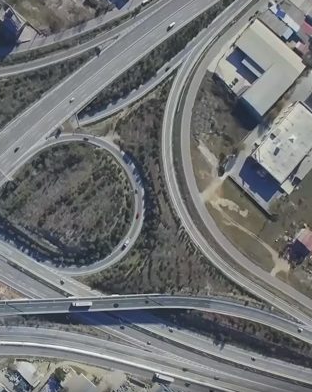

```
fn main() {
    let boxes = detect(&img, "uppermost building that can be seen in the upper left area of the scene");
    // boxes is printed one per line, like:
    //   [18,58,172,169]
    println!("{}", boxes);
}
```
[0,8,22,34]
